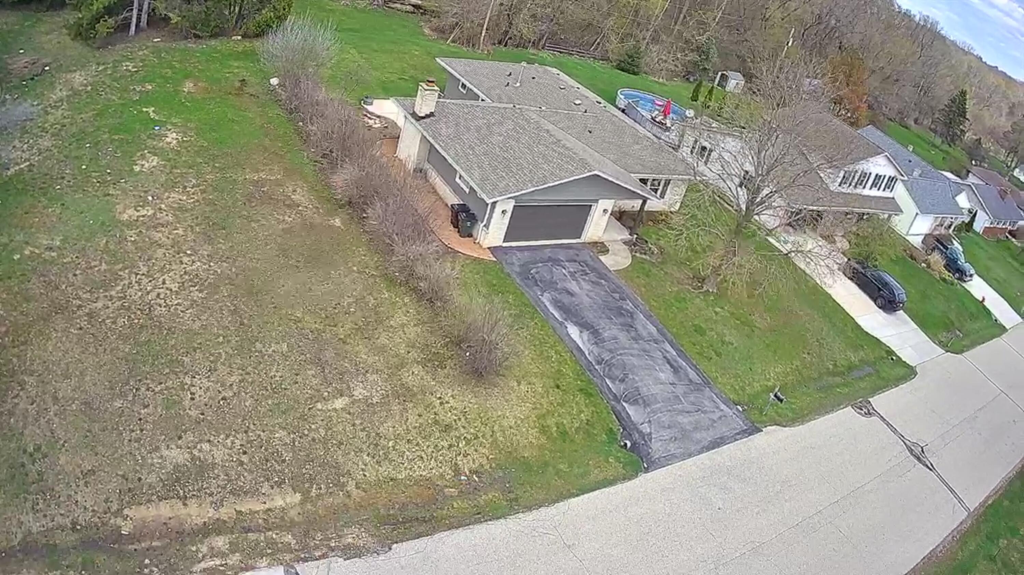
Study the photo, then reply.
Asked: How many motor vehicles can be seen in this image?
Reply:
2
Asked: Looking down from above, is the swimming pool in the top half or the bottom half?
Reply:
top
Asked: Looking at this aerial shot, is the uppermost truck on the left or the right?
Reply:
right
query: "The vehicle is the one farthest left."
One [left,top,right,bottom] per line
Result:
[837,257,911,307]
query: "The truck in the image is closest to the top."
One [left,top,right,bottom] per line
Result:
[913,228,982,279]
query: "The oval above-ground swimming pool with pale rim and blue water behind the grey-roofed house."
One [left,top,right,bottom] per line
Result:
[613,90,701,133]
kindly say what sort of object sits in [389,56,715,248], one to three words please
house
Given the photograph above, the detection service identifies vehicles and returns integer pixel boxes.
[913,228,982,279]
[837,257,911,307]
